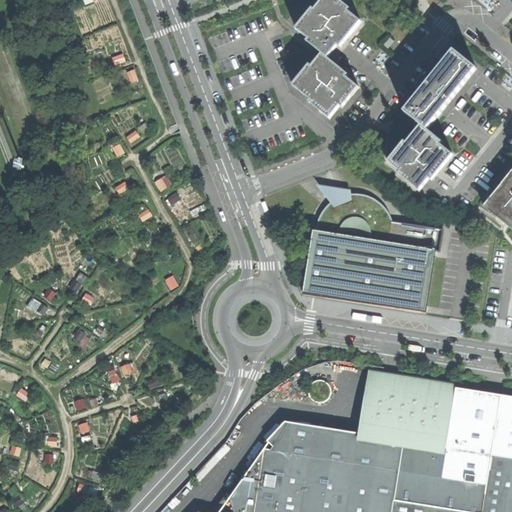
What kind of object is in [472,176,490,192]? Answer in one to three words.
vehicle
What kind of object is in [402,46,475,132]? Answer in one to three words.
building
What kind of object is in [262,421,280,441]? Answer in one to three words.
vehicle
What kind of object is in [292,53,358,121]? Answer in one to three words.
building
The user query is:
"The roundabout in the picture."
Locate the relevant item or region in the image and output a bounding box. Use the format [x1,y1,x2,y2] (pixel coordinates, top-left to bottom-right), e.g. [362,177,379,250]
[214,276,296,359]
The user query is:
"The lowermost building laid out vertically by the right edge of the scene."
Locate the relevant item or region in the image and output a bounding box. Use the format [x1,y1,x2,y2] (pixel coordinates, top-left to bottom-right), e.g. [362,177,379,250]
[484,168,512,230]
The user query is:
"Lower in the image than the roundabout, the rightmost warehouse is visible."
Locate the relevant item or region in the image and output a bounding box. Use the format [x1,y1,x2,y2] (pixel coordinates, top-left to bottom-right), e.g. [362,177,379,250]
[219,370,512,512]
